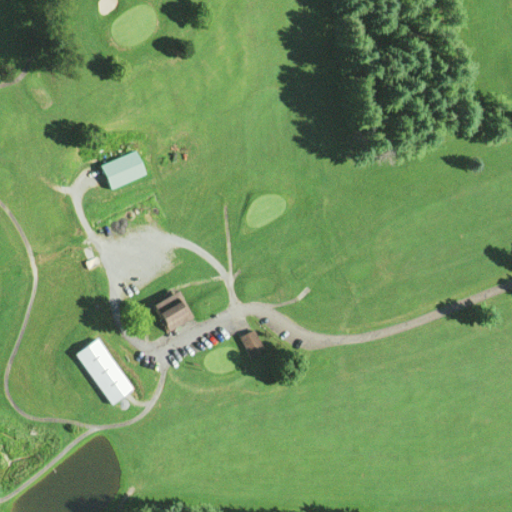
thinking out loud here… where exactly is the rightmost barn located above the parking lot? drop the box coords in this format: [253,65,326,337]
[102,150,146,190]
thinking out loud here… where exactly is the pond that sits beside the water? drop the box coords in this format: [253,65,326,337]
[13,437,121,512]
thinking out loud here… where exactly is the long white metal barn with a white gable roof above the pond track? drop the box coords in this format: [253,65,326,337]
[77,338,135,405]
